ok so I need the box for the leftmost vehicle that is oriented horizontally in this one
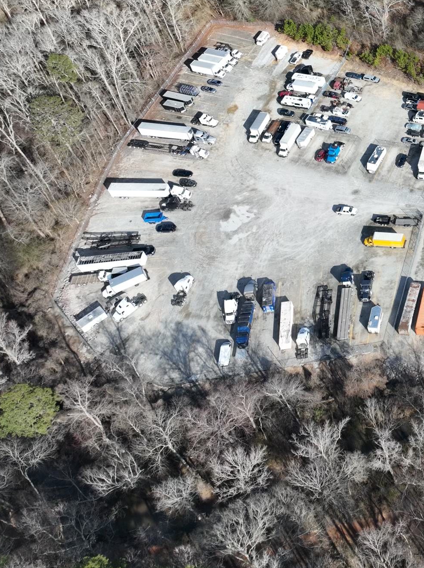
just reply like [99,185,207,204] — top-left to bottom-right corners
[73,271,112,285]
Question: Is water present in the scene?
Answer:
No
